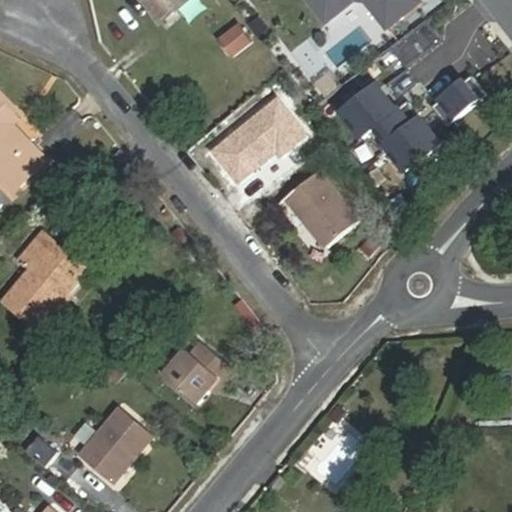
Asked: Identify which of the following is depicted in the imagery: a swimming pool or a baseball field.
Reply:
swimming pool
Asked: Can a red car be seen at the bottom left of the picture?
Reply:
Yes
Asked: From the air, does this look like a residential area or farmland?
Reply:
residential area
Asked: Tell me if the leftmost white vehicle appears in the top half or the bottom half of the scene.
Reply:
bottom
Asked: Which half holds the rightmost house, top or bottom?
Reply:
top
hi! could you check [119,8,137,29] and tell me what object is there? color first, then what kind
white vehicle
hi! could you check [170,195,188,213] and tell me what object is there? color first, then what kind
gray car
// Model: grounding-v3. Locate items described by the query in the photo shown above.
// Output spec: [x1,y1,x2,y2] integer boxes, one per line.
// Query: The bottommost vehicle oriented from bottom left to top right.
[244,178,264,196]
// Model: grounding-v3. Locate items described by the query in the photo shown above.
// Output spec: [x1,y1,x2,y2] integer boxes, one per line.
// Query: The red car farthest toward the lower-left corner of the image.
[53,491,74,511]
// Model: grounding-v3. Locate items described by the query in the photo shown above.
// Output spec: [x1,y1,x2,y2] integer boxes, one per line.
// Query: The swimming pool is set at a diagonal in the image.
[324,24,373,67]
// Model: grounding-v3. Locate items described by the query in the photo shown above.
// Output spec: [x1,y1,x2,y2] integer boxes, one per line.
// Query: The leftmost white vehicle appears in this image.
[32,476,56,498]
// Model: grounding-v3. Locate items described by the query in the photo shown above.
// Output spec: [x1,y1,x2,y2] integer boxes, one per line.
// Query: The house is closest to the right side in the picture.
[433,76,480,128]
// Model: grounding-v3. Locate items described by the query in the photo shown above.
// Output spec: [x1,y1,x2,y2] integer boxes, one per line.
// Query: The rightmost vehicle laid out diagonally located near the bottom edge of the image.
[84,472,105,491]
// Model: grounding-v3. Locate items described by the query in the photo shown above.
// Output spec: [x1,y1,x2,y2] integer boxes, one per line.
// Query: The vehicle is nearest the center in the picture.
[245,236,262,256]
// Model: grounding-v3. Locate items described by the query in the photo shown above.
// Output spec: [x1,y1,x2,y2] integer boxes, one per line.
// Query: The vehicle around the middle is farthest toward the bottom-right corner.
[272,271,290,288]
